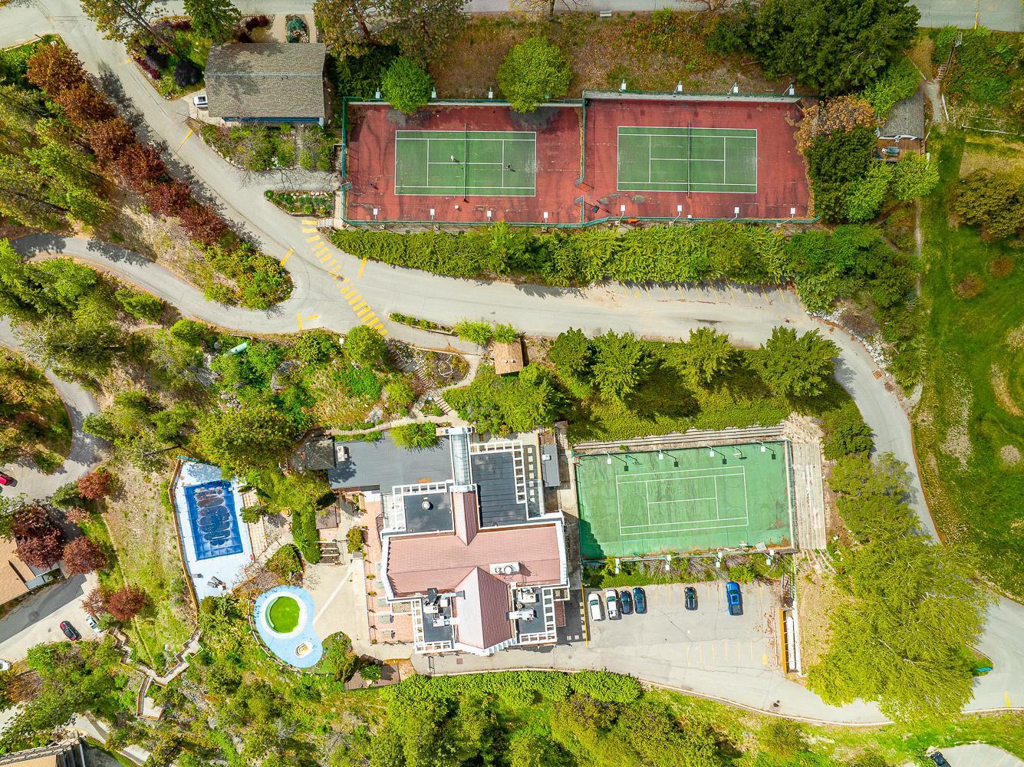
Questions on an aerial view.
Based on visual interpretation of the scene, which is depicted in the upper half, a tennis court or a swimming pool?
tennis court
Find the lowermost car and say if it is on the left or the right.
right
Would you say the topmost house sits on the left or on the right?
left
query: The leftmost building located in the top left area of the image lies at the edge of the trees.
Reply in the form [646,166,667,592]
[205,43,328,123]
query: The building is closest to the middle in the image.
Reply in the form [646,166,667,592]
[494,341,523,374]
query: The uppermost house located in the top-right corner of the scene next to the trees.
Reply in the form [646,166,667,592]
[874,92,926,161]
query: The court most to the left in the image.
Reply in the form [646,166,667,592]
[347,104,581,222]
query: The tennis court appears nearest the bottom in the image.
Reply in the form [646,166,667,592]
[577,444,797,562]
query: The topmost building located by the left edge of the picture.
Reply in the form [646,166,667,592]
[0,532,68,605]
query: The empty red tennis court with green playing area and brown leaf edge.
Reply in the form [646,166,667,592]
[582,102,818,222]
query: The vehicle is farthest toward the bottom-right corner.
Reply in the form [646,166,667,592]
[929,746,949,767]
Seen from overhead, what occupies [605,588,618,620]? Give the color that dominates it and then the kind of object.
white vehicle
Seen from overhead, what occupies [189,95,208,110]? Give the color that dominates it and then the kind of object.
white car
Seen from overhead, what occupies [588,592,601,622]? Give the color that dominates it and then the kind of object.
white vehicle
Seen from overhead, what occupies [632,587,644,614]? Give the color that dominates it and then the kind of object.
blue vehicle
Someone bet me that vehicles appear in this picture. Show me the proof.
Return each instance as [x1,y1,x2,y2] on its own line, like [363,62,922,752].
[619,590,630,614]
[605,588,618,620]
[85,612,103,635]
[588,592,601,622]
[727,582,741,616]
[61,619,80,642]
[0,473,16,487]
[929,746,949,767]
[189,95,208,110]
[684,586,696,609]
[632,587,644,614]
